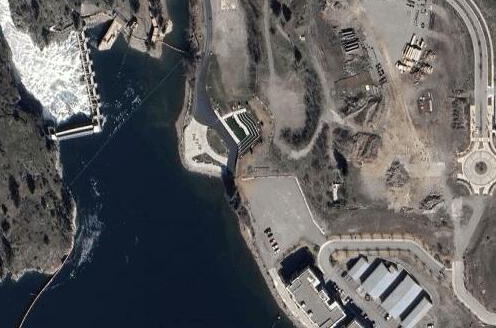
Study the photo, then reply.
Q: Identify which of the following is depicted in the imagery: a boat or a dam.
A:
dam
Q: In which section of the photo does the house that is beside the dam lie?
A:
top left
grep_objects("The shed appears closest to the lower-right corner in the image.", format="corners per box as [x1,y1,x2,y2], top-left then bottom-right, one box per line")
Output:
[401,298,433,328]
